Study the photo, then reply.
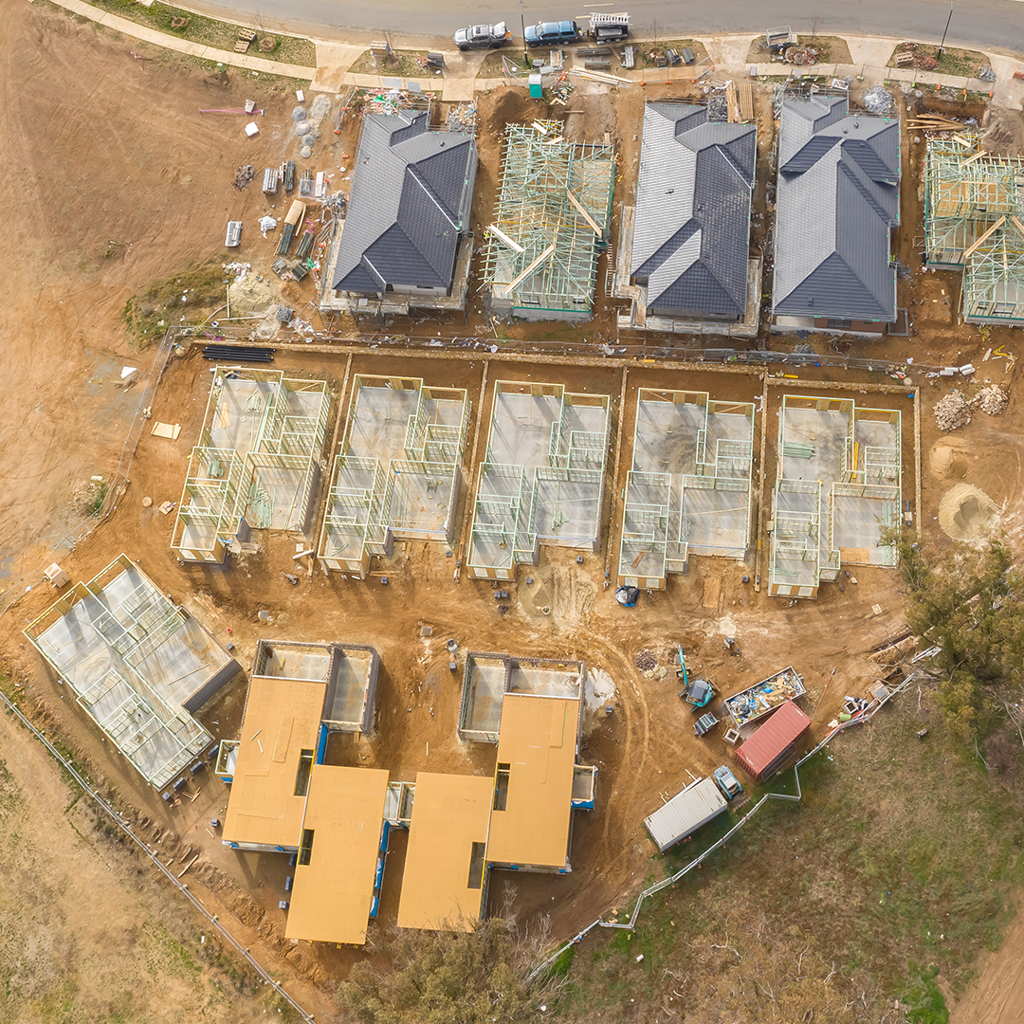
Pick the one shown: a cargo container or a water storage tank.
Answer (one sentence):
The image shows a cargo container.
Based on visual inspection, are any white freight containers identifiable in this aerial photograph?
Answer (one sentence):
Yes, the picture does show a white freight container.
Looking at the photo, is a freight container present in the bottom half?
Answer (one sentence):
Yes, you'll find a freight container in the bottom half.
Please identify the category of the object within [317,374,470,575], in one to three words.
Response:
house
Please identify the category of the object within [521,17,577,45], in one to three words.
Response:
truck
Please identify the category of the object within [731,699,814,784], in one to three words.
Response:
shipping container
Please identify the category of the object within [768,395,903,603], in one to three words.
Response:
house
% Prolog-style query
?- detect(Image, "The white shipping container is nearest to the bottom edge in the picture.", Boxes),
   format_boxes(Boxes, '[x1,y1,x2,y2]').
[642,776,729,856]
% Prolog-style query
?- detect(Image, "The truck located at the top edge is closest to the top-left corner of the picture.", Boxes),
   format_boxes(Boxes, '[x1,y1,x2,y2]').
[452,21,512,51]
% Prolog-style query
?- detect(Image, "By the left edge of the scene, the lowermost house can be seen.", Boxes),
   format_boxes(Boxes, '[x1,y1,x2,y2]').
[23,559,236,793]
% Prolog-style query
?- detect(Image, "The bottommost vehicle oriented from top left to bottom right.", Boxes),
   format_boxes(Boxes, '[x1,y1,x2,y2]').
[708,762,751,813]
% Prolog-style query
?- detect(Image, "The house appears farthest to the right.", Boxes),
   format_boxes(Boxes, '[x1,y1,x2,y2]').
[923,123,1024,332]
